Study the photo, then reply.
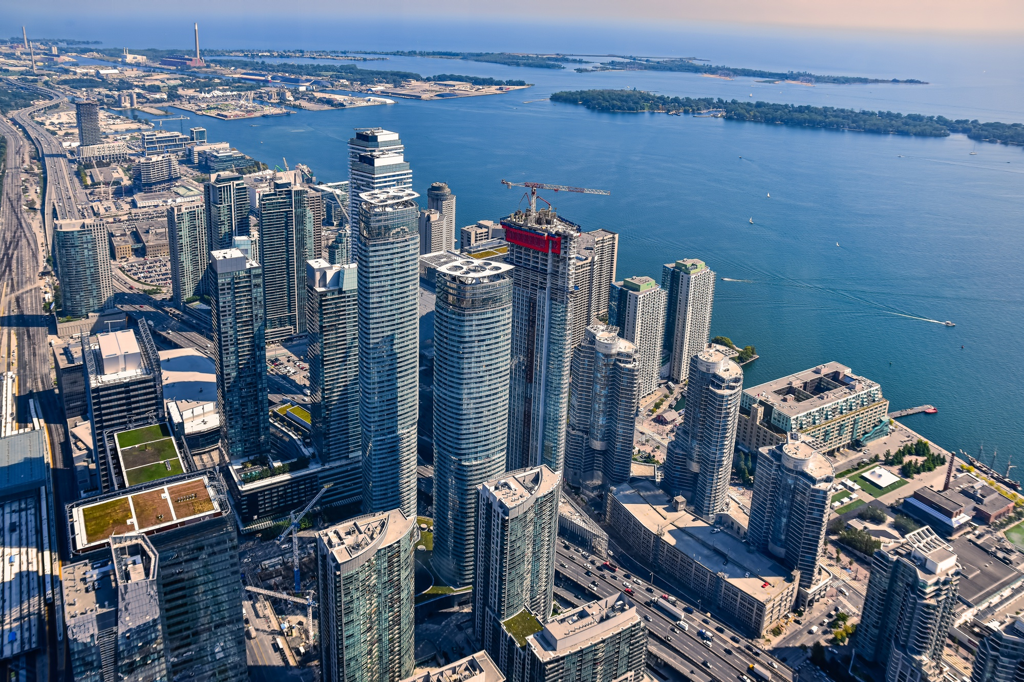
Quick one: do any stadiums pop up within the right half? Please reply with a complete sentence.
No, the scene shows no stadium within the right half.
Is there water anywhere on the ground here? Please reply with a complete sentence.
Yes, the picture does contain water.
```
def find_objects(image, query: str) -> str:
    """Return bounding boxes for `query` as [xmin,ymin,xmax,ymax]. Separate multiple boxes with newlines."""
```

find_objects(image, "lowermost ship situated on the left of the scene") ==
[290,166,322,179]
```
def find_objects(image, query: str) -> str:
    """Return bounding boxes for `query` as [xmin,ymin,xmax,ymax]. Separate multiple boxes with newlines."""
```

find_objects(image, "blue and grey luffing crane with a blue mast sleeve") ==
[276,483,329,587]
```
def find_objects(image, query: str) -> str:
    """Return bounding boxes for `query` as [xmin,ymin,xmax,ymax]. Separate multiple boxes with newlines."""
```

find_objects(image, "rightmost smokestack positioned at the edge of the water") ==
[942,451,958,494]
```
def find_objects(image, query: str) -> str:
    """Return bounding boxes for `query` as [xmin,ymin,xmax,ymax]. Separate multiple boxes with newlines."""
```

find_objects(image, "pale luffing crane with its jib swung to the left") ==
[242,584,318,662]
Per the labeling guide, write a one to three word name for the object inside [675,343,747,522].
building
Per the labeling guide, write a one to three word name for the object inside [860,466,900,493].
tent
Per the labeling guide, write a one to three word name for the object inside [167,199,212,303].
building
